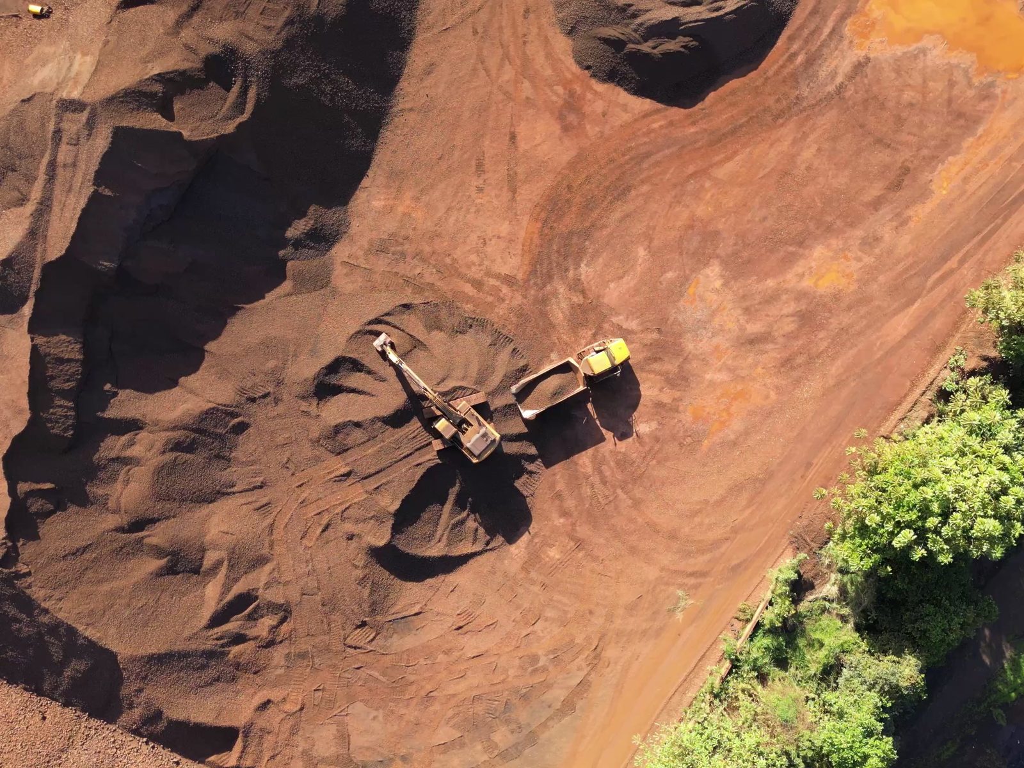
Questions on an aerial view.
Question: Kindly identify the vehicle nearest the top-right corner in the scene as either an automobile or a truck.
truck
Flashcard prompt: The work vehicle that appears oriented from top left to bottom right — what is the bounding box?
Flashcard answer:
[371,333,497,459]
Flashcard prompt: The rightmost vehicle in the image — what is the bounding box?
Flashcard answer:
[509,335,635,420]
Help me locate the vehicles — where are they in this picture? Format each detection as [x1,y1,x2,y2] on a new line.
[509,335,635,420]
[371,333,497,459]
